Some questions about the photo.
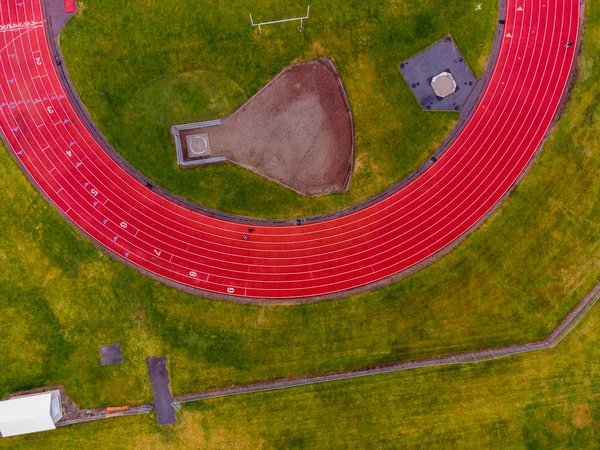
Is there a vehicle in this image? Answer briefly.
No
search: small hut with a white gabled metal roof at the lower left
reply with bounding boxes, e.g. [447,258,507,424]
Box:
[0,390,63,438]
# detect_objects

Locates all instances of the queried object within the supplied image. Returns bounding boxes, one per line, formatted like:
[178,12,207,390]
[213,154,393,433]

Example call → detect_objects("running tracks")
[0,0,579,298]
